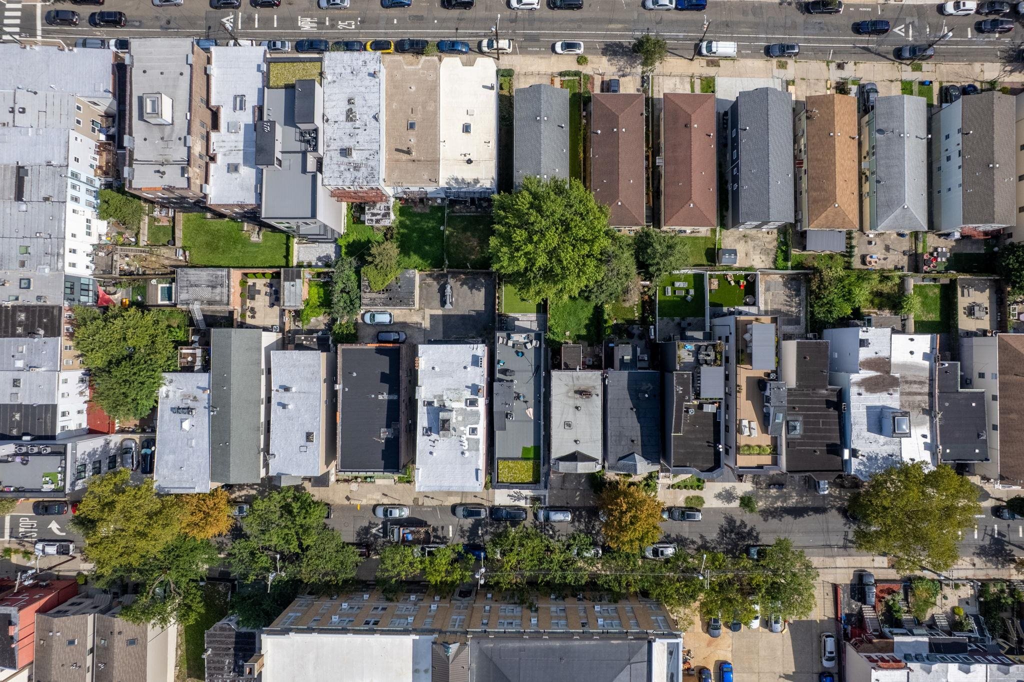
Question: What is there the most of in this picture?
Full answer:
The bulk of the photo consists of buildings.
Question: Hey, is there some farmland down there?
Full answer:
No, the picture contains no farmland.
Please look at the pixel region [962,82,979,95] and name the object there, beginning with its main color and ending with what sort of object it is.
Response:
black vehicle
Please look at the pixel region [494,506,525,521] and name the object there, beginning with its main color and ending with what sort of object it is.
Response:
black car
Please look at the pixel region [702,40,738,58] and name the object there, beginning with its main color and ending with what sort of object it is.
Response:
white vehicle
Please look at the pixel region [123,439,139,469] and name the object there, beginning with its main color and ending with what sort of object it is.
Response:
gray car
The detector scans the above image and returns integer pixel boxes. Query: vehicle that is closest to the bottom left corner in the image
[37,540,74,557]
